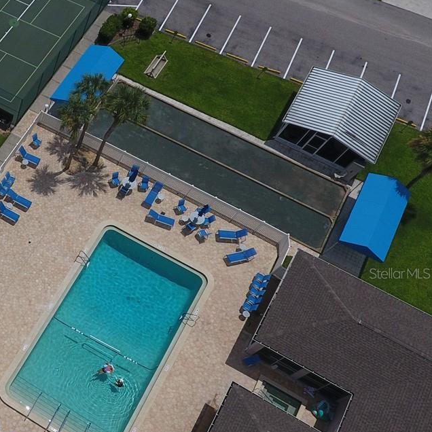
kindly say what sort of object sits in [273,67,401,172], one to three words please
shed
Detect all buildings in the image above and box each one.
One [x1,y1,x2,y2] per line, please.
[273,67,401,172]
[205,247,432,432]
